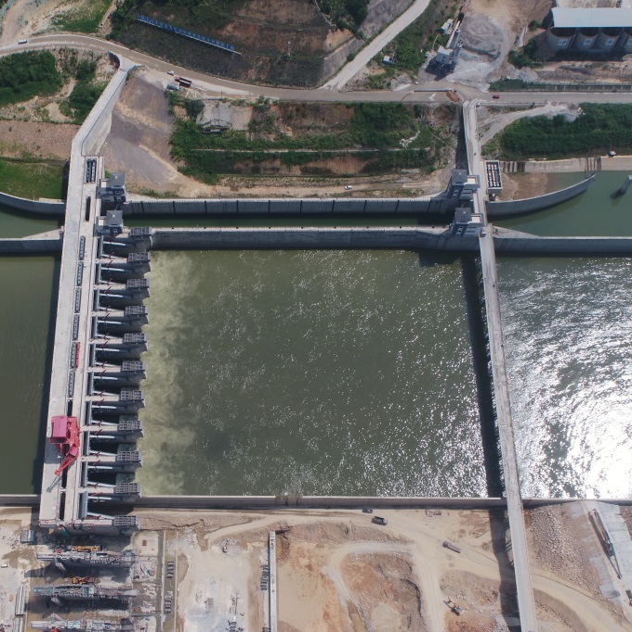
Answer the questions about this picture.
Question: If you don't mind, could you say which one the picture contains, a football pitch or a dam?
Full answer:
Visible in the photo is a dam.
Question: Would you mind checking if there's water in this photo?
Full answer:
Yes, water shows up in the scene.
